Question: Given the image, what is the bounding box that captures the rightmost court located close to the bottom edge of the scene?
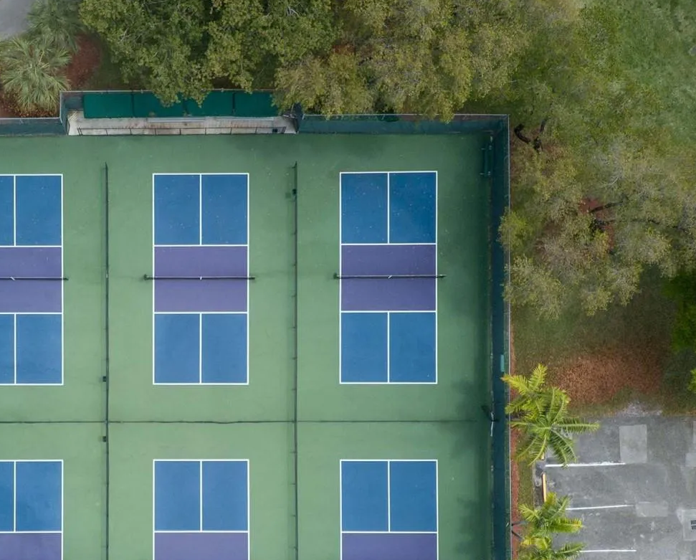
[390,461,438,532]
